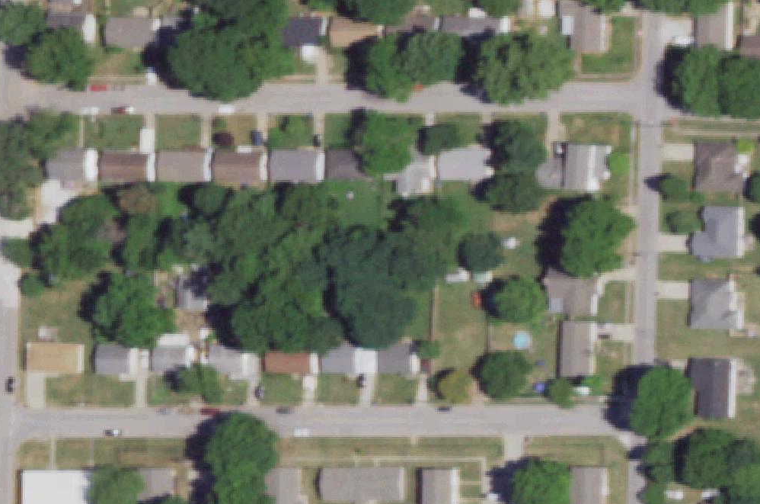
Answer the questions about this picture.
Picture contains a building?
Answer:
Yes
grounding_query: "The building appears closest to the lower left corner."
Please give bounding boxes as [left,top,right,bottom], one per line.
[19,471,94,504]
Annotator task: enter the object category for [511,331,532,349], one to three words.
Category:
swimming pool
